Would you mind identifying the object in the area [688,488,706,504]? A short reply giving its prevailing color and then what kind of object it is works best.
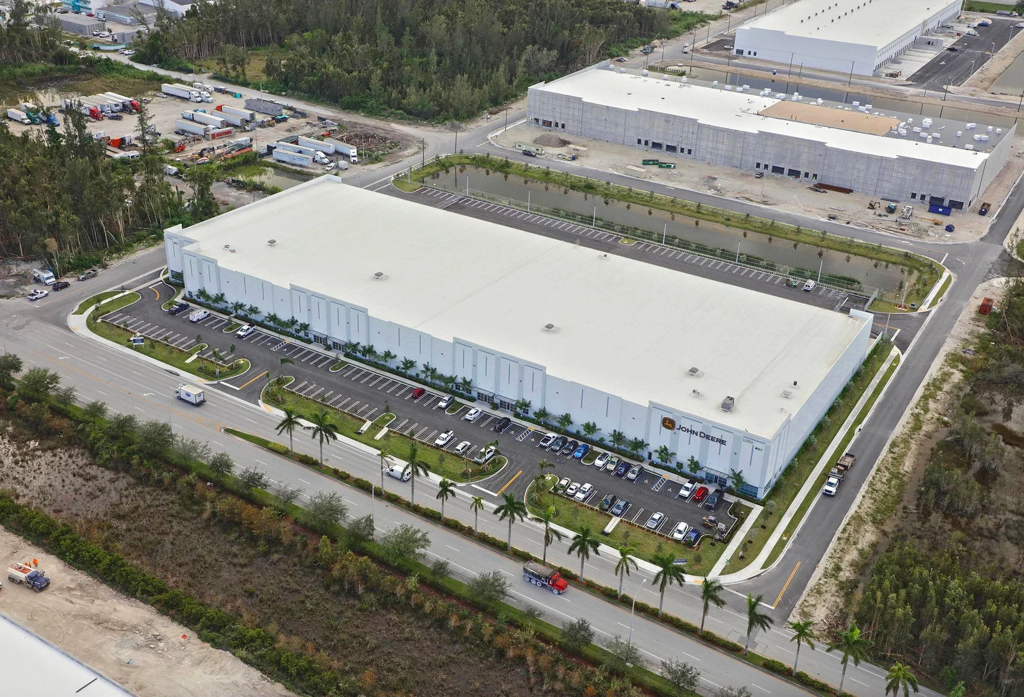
red car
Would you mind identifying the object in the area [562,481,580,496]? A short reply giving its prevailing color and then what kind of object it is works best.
white car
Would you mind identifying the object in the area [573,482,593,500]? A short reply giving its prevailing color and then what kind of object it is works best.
white car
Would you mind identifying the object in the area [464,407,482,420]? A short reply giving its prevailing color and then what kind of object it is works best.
white vehicle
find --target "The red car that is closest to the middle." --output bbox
[408,387,426,399]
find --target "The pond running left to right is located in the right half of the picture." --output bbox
[431,167,900,289]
